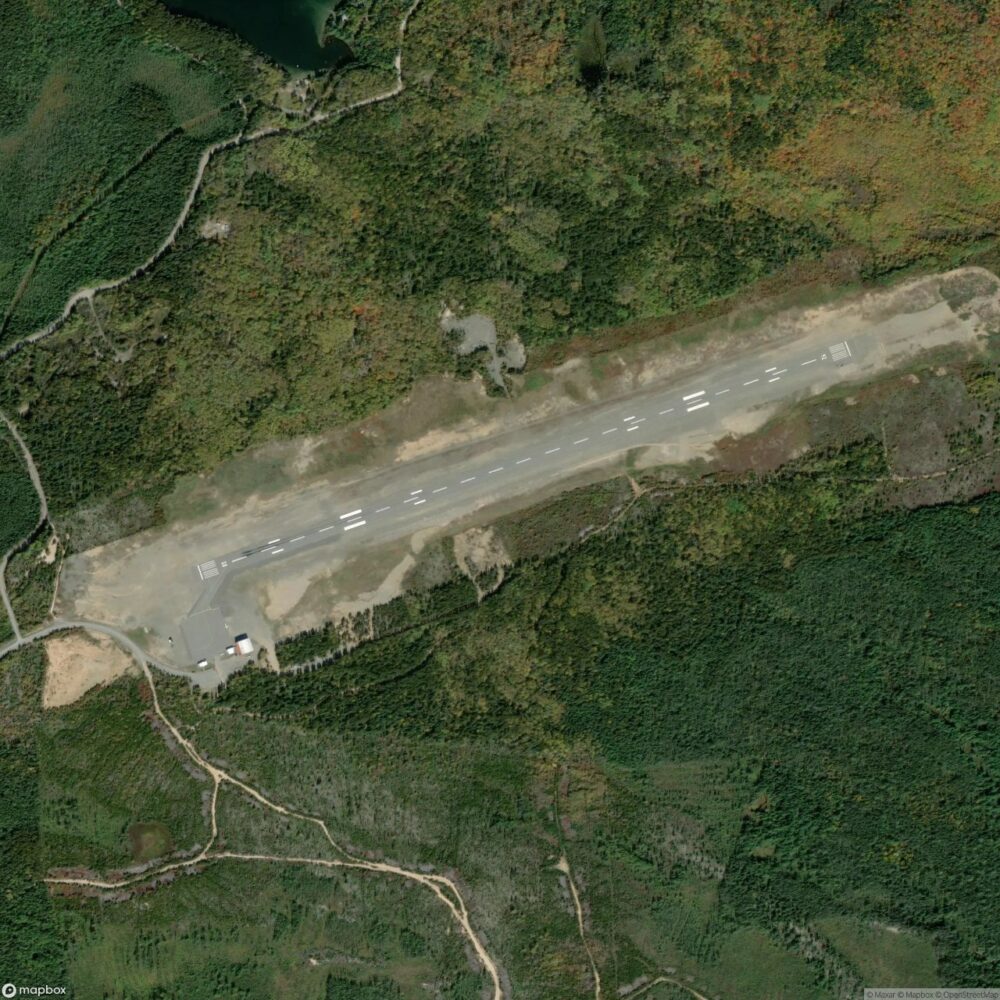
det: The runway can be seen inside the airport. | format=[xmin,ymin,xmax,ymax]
[193,336,864,582]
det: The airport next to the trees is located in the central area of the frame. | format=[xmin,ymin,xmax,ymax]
[181,336,864,663]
